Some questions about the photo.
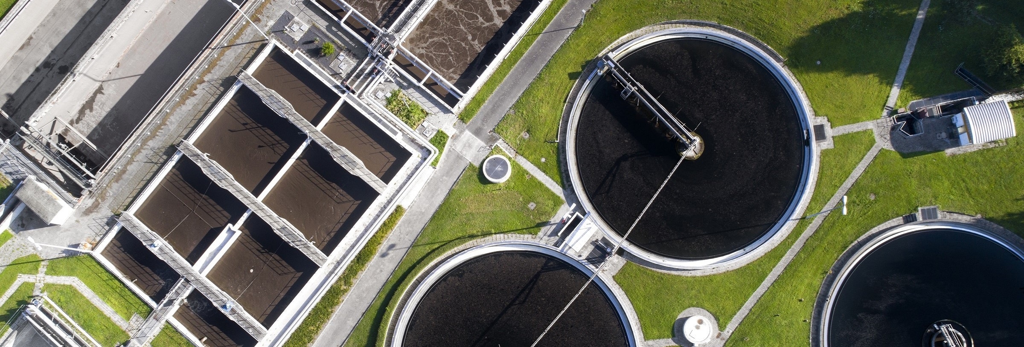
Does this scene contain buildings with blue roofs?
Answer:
No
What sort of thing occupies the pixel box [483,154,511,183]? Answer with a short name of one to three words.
storage tank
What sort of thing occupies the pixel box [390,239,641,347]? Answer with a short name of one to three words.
water tank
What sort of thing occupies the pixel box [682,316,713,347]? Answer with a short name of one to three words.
storage tank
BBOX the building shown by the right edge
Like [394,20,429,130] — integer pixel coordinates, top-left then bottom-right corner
[953,100,1015,148]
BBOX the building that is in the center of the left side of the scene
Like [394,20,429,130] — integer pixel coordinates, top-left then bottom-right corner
[15,175,76,224]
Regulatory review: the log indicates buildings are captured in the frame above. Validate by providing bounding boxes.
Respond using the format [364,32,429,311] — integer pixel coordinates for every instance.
[953,100,1015,148]
[15,175,76,224]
